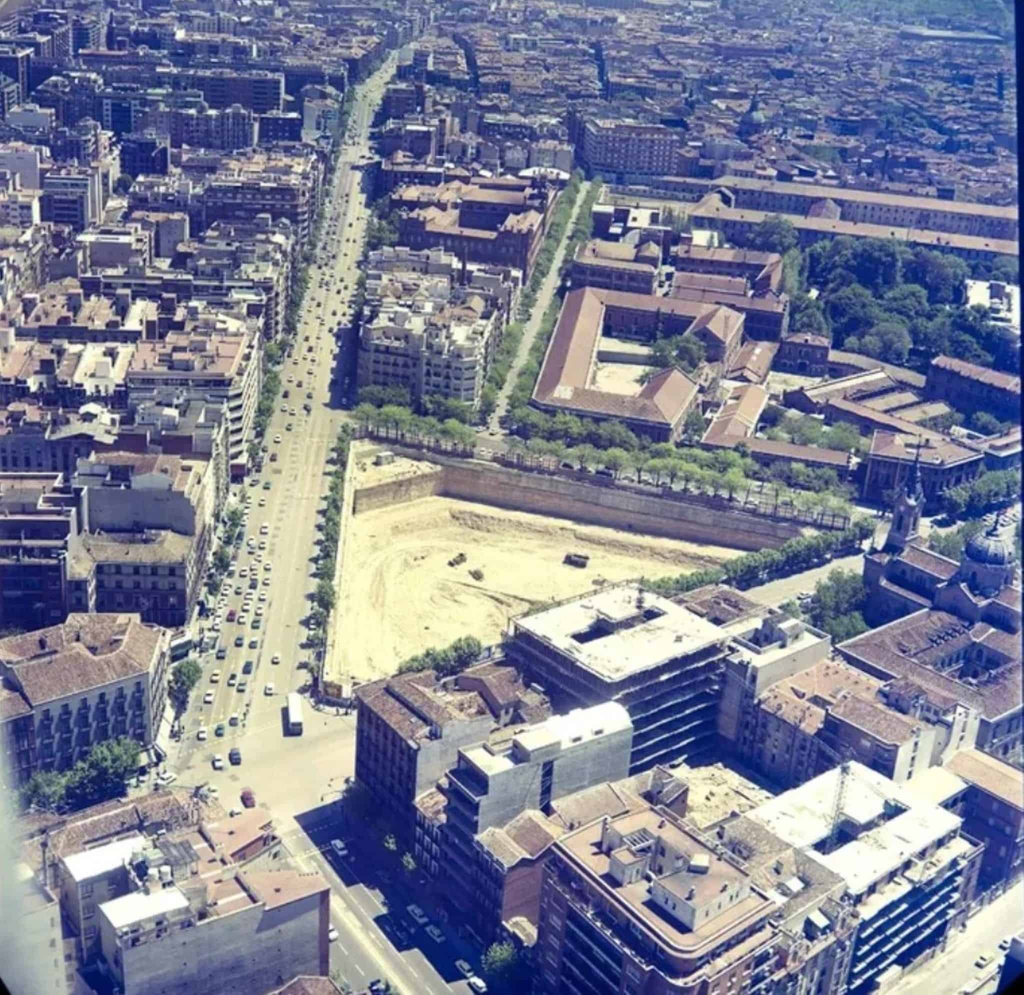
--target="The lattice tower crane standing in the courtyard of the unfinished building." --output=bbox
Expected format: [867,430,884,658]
[823,749,882,811]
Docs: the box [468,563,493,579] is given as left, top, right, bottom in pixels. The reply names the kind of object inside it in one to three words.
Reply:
work vehicle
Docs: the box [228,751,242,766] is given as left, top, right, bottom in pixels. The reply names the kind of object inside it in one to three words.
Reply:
car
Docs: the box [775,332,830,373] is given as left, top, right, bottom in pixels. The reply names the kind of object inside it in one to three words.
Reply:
house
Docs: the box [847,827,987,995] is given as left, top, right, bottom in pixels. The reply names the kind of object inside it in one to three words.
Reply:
building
